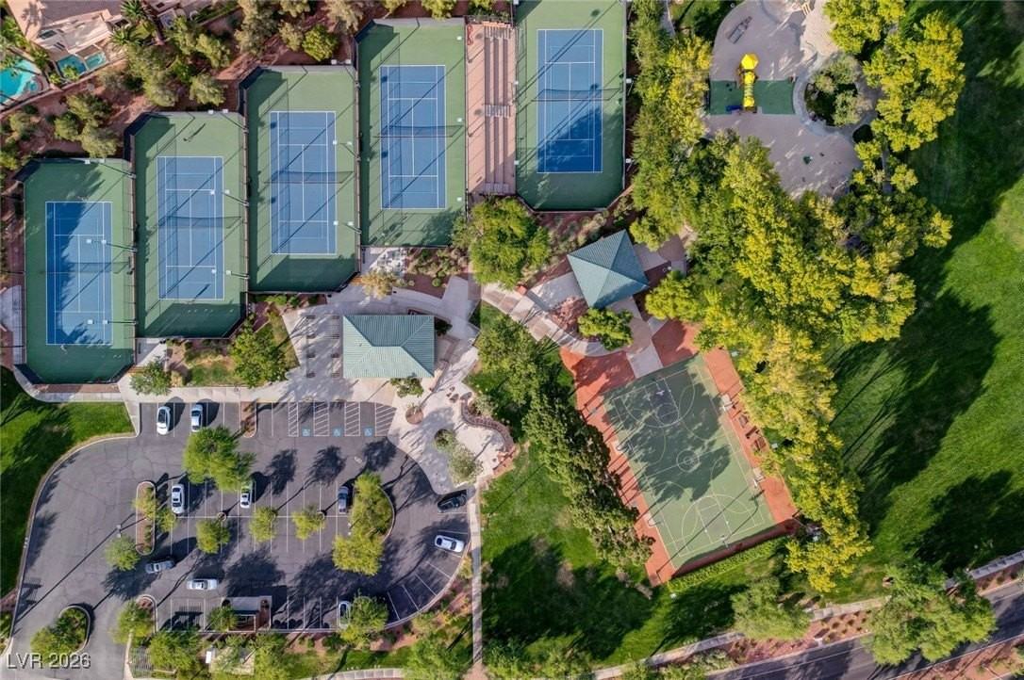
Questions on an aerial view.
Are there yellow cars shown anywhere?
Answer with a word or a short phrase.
No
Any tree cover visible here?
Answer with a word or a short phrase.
Yes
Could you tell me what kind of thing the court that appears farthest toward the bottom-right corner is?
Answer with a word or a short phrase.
basketball court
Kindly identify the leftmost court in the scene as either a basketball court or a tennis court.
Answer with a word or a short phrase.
tennis court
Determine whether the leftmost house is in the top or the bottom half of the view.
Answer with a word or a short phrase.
top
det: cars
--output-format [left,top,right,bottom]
[337,601,350,631]
[237,480,252,511]
[185,579,216,594]
[437,493,468,513]
[154,406,170,435]
[187,404,202,434]
[335,484,349,514]
[143,559,174,576]
[168,484,184,514]
[433,536,465,554]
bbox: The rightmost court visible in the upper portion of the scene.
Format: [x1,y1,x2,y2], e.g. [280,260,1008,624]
[516,0,626,210]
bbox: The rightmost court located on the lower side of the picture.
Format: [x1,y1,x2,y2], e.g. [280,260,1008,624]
[561,319,801,586]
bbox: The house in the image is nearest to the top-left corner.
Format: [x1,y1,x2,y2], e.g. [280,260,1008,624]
[12,0,131,61]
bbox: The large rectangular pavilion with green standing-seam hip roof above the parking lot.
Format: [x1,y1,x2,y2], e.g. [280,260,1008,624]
[342,315,435,379]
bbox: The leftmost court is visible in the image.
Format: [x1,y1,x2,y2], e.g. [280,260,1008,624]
[23,160,130,381]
